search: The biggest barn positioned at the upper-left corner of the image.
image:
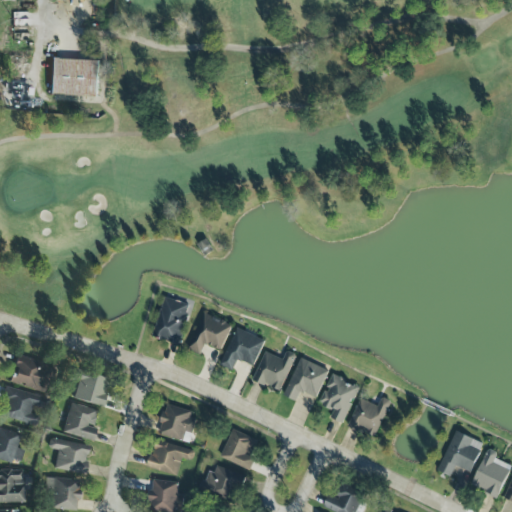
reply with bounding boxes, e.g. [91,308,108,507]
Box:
[46,57,99,96]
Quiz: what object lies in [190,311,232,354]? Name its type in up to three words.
house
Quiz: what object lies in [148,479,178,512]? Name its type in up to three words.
house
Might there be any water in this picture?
Yes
